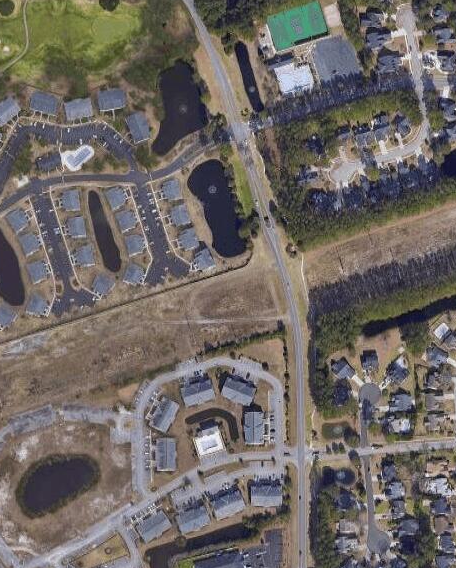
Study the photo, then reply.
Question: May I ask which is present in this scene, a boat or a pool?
pool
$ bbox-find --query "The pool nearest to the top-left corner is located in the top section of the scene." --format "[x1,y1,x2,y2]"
[62,145,94,171]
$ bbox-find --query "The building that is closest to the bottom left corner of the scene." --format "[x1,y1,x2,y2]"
[137,512,172,545]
